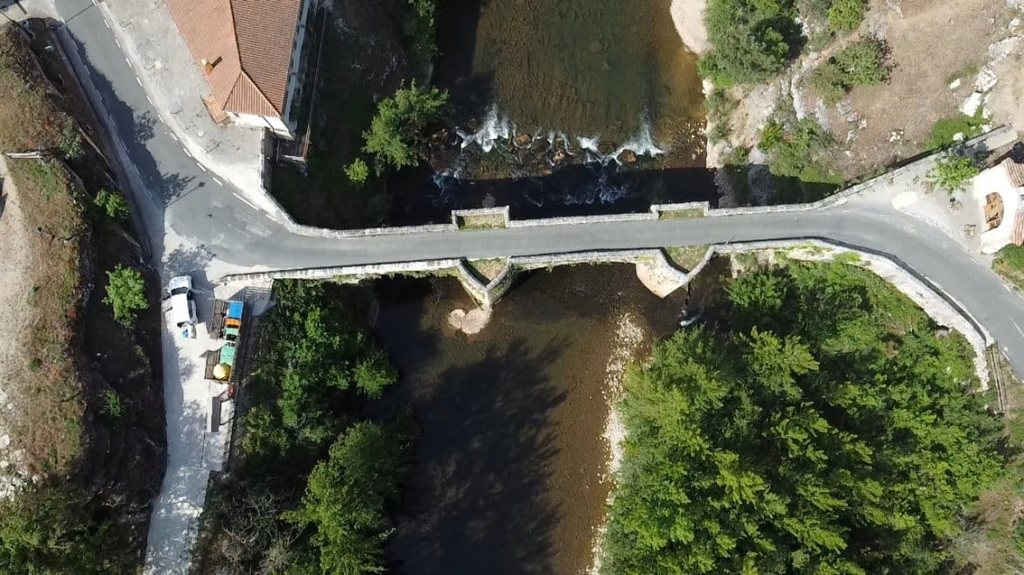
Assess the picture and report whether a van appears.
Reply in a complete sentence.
Yes, there is a van in the image.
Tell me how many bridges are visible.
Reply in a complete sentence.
In total, 1 bridge can be seen.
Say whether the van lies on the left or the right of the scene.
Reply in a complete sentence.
The van sits on the left side.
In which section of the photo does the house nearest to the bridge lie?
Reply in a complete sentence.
The house nearest to the bridge is located in the top left region of the scene.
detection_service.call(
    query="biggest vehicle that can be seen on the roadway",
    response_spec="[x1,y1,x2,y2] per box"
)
[166,276,200,335]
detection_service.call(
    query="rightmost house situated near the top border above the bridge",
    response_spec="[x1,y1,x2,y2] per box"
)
[165,0,332,167]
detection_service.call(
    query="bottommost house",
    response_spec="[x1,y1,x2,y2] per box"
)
[977,151,1024,253]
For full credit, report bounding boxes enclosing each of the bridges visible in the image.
[219,187,843,304]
